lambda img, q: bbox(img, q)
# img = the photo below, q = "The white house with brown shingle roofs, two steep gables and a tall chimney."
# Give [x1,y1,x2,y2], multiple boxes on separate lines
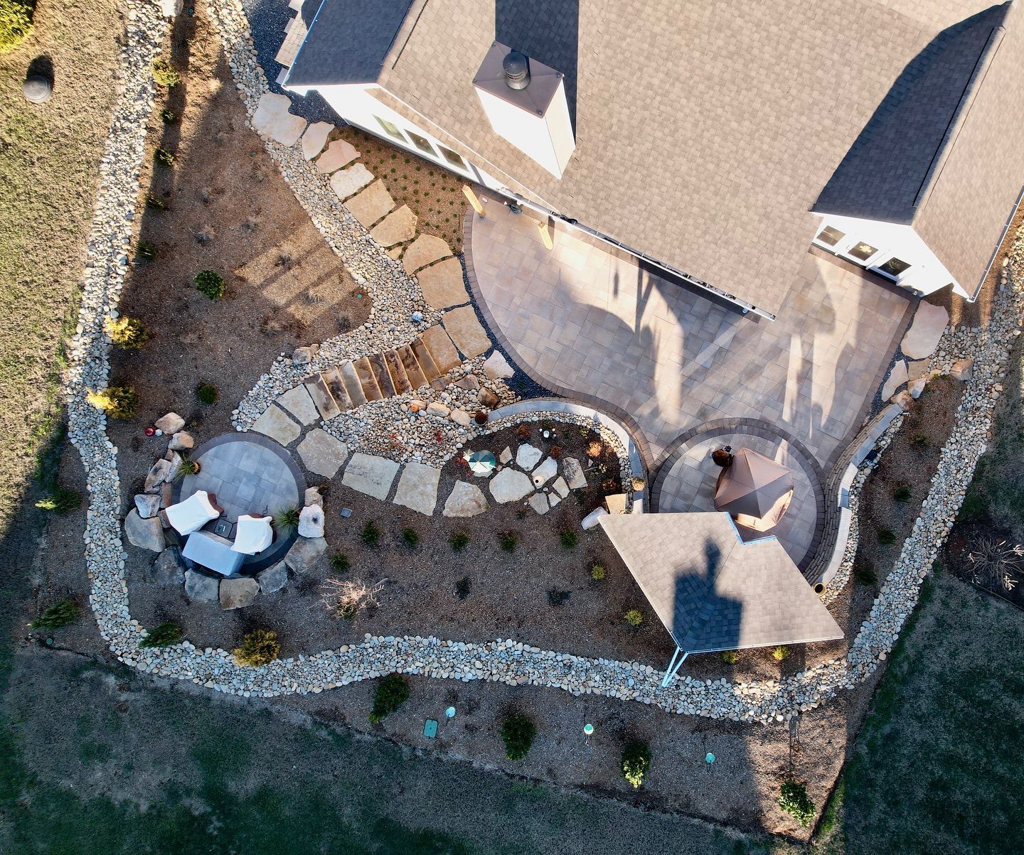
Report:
[277,0,1024,325]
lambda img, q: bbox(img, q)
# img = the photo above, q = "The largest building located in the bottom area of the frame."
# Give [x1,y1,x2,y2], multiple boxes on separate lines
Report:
[595,510,845,690]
